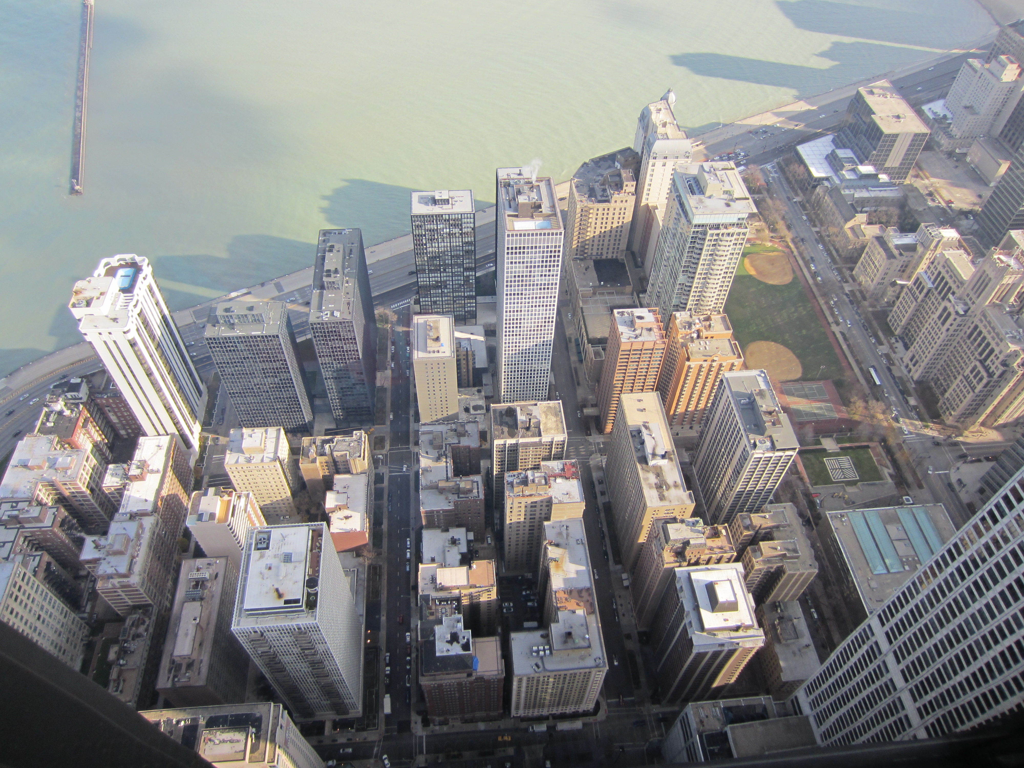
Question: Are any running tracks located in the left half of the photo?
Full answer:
No, no running track appears in the left half of the photo.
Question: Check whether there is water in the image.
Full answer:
Yes, the picture does contain water.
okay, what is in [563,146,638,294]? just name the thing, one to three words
building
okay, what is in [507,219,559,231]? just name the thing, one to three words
swimming pool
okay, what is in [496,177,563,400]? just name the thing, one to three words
building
